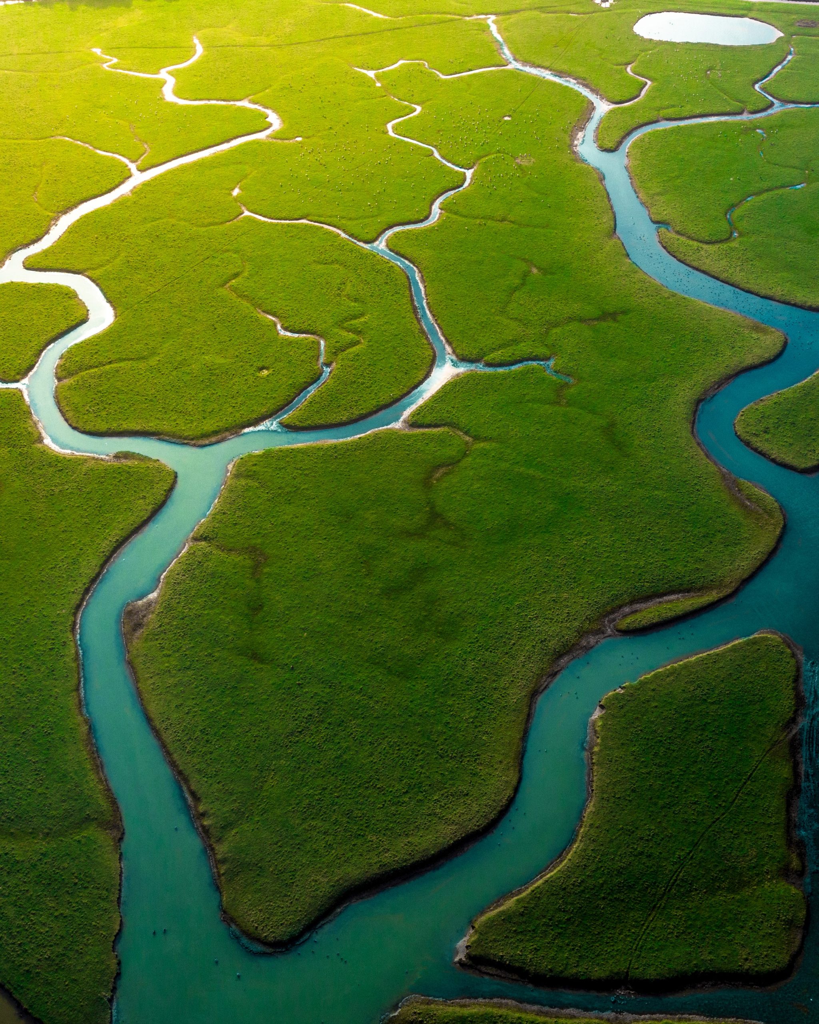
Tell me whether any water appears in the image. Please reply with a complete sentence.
Yes, there's water in this view.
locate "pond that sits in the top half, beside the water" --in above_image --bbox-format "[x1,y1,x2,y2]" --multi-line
[634,12,794,51]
